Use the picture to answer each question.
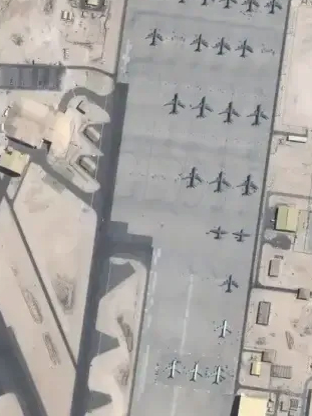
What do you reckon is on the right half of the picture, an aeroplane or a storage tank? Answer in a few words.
aeroplane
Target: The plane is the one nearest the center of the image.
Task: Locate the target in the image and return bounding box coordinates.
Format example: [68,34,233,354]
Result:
[182,167,202,189]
